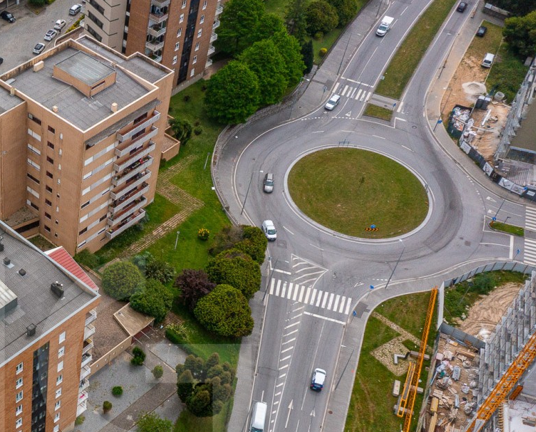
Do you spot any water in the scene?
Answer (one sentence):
No, water can't be seen anywhere here.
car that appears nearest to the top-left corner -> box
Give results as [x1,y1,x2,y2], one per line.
[0,8,17,24]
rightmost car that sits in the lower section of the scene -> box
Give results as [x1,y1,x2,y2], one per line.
[310,368,328,392]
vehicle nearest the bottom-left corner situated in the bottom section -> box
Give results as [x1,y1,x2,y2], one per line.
[248,398,269,432]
